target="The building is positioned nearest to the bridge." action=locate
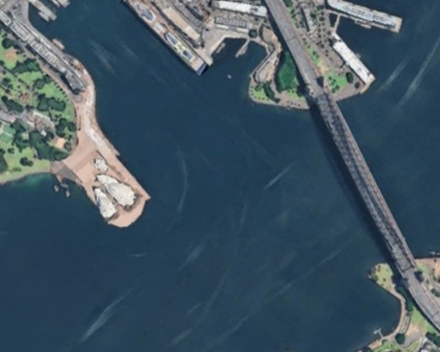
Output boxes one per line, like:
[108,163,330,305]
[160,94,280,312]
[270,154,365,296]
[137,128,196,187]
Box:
[217,1,269,17]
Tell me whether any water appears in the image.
Yes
